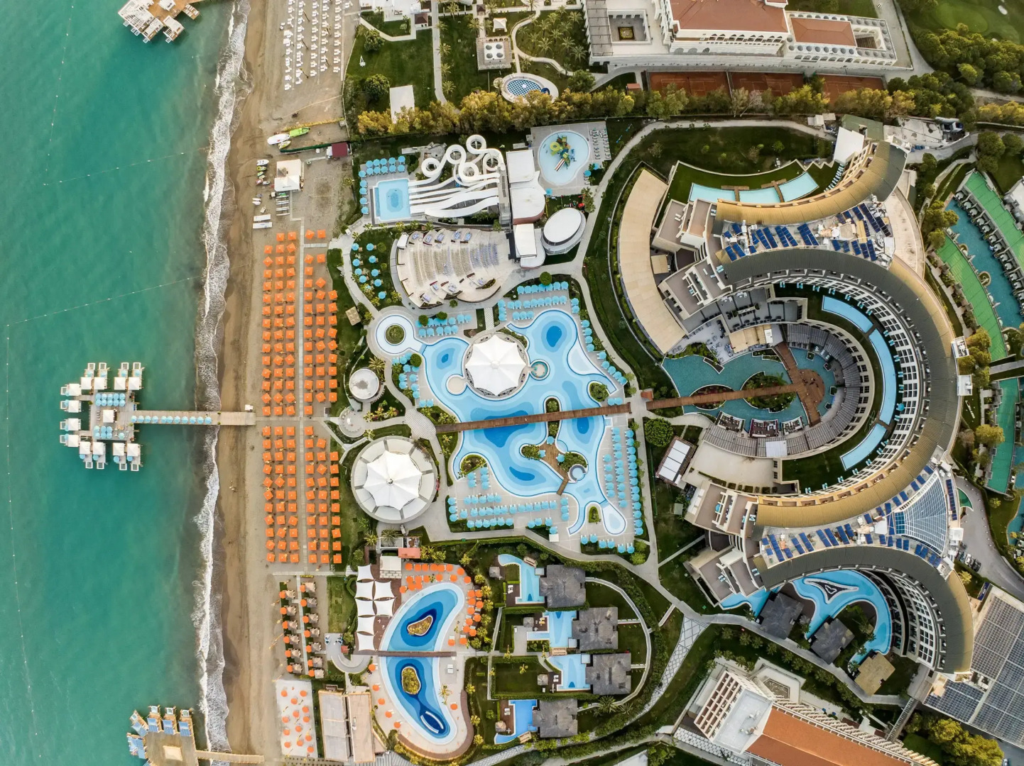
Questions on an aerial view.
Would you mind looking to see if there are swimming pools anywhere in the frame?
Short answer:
Yes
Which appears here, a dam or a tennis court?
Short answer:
tennis court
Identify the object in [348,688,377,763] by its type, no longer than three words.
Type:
building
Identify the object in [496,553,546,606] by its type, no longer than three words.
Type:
swimming pool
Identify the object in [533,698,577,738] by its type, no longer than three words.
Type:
house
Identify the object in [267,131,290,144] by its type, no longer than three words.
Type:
boat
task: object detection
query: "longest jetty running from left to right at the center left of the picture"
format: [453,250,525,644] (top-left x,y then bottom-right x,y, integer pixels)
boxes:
[74,389,256,444]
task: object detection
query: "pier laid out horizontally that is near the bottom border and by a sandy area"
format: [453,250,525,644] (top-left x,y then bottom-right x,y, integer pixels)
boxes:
[144,732,265,766]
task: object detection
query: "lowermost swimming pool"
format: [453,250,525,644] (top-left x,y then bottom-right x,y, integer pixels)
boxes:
[492,701,539,747]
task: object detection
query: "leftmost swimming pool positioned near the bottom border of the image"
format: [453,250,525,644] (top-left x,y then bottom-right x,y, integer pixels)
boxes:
[376,580,467,748]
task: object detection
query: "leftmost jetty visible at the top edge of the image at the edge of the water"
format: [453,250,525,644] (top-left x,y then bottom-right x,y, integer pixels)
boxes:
[137,0,202,41]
